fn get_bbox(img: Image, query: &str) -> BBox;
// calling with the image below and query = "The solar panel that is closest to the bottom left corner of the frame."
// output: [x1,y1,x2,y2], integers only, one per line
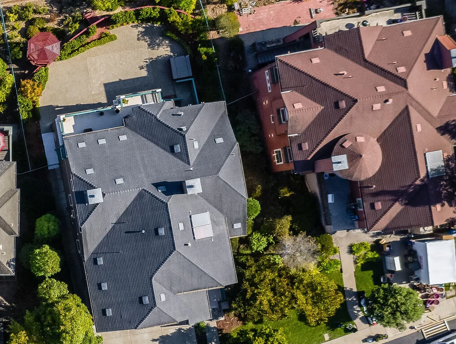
[191,213,215,239]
